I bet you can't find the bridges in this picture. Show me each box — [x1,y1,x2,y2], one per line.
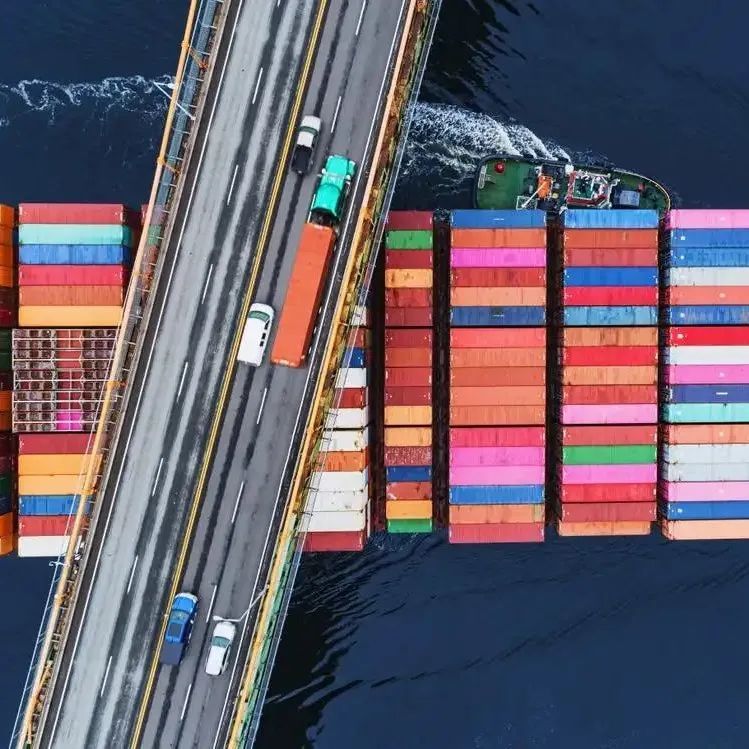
[7,0,444,749]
